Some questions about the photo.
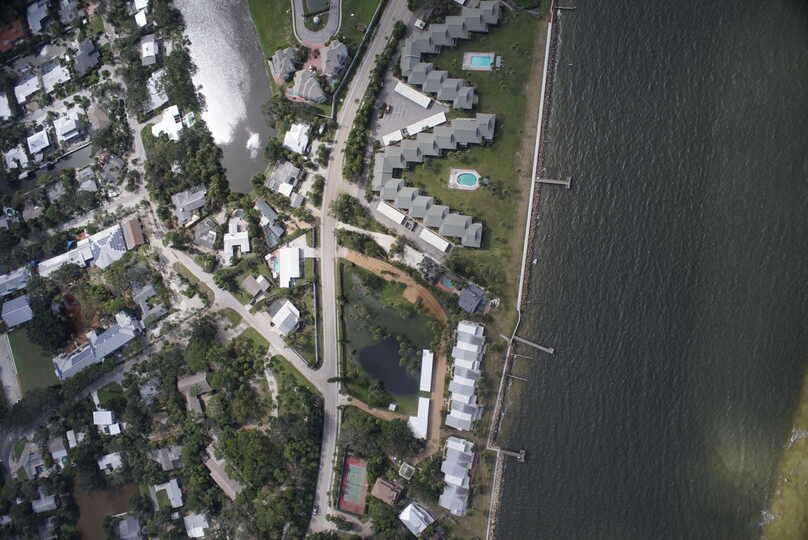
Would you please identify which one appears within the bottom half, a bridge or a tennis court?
tennis court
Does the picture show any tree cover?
Yes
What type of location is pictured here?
residential area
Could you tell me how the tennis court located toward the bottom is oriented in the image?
from top to bottom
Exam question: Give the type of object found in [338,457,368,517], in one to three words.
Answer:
tennis court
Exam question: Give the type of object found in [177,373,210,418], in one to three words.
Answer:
house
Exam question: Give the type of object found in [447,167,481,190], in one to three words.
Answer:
swimming pool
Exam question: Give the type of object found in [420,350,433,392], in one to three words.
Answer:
shed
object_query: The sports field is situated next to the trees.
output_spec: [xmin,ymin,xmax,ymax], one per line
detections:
[10,331,58,396]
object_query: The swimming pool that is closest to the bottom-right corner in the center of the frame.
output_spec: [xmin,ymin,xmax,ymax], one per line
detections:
[436,275,457,294]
